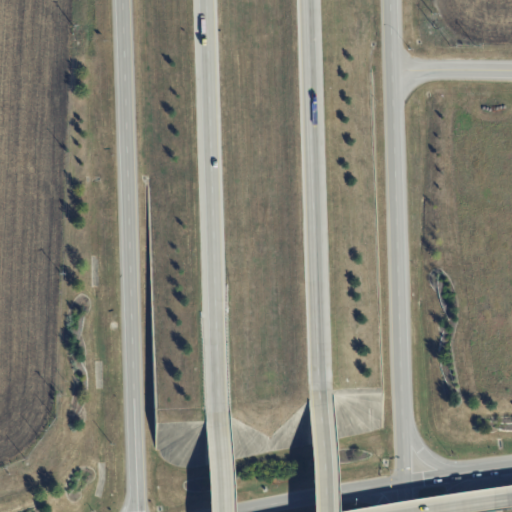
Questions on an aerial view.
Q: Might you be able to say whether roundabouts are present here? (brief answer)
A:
No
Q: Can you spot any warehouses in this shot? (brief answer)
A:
No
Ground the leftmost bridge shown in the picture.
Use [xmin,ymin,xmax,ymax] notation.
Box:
[206,412,236,512]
